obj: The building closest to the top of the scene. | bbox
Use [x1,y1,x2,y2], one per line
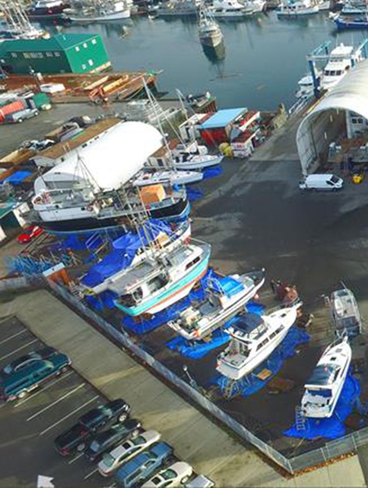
[0,28,113,73]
